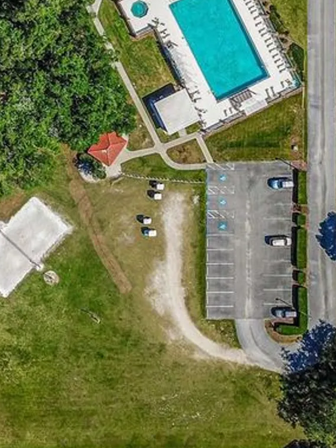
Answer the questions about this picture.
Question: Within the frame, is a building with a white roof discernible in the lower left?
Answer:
No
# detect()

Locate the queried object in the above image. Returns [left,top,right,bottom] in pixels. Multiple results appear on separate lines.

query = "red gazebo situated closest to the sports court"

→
[87,129,128,166]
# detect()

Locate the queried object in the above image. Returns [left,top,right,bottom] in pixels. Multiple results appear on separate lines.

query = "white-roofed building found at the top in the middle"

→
[151,88,200,135]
